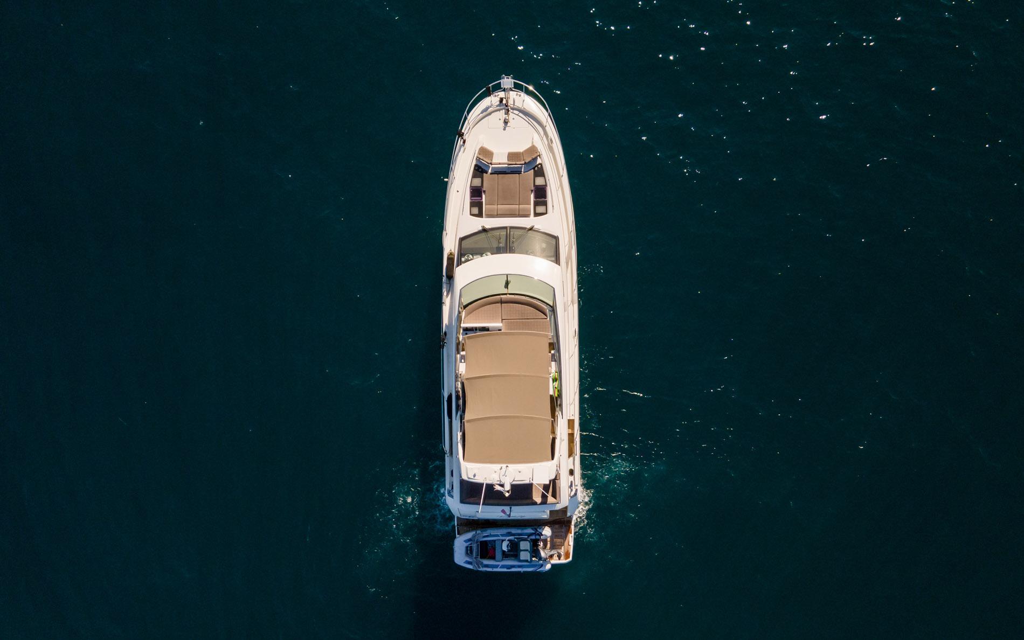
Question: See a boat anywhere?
Yes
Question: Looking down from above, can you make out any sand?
No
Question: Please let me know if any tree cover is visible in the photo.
No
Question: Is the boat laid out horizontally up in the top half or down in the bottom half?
bottom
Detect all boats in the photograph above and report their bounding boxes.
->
[440,79,581,564]
[453,527,564,572]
